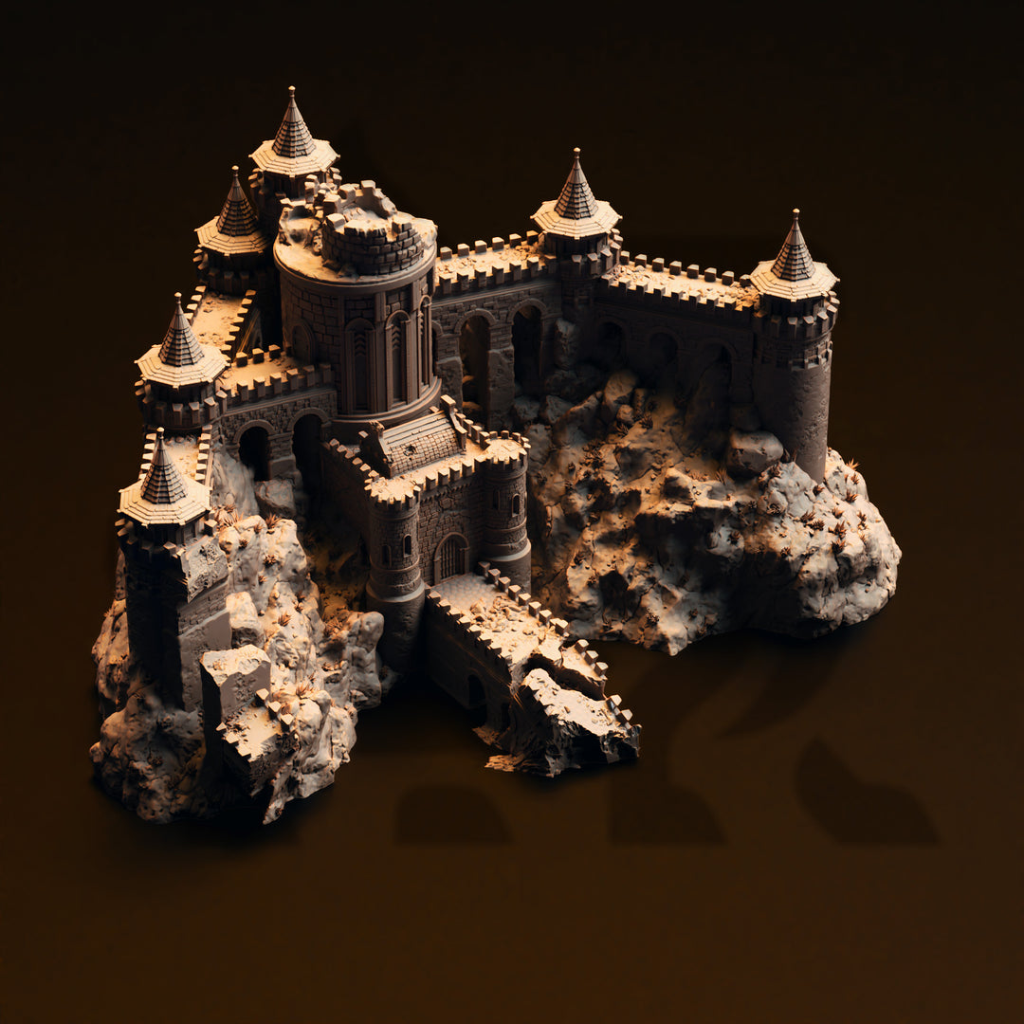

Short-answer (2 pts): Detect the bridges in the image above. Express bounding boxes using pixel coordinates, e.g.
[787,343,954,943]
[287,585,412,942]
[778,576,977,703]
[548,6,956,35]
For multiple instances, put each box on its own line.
[413,553,574,754]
